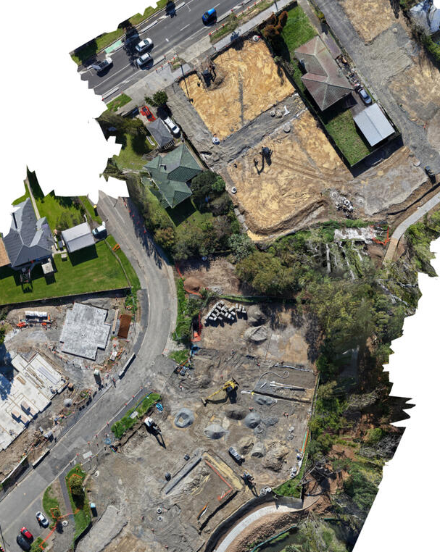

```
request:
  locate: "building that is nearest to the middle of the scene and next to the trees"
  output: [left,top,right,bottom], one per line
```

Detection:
[143,142,200,210]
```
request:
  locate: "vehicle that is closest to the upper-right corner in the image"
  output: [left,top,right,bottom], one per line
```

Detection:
[358,88,371,105]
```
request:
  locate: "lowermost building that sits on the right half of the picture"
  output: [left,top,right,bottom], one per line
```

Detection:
[354,104,395,147]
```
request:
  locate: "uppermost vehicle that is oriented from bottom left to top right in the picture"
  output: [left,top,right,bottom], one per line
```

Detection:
[202,10,217,24]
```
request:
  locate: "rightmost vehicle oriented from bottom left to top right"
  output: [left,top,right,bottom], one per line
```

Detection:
[254,142,272,170]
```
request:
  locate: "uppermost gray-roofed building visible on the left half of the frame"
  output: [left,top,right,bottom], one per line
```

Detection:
[146,118,174,149]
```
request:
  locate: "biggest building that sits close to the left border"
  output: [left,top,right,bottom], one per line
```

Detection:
[1,199,56,271]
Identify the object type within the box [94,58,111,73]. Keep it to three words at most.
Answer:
vehicle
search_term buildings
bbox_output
[146,118,174,149]
[293,33,353,111]
[1,199,56,271]
[354,104,395,147]
[143,142,200,210]
[411,0,440,39]
[62,223,95,252]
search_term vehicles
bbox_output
[137,54,151,66]
[227,446,245,463]
[90,226,109,237]
[421,165,436,178]
[254,142,272,170]
[242,469,256,488]
[201,62,217,80]
[165,117,179,134]
[136,39,152,52]
[358,88,371,105]
[203,378,242,401]
[142,415,165,436]
[140,105,154,122]
[94,58,111,73]
[202,10,217,24]
[20,526,33,540]
[17,534,31,551]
